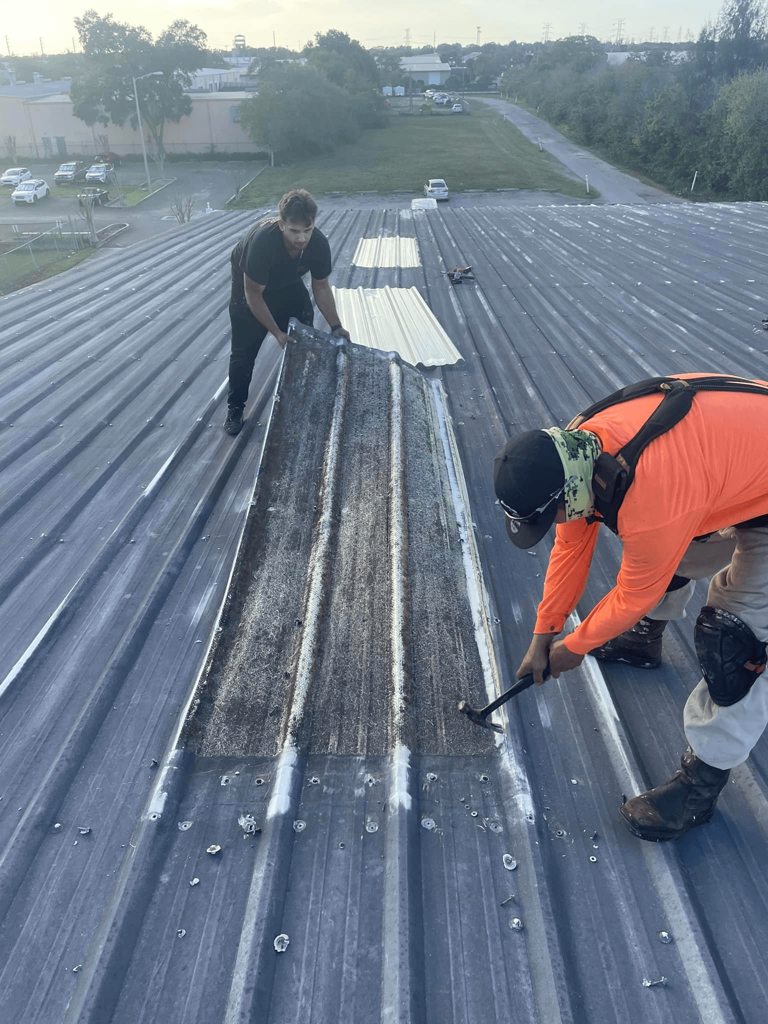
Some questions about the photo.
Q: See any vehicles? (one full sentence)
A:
Yes, there's a vehicle here.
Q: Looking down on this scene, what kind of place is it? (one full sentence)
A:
It's an industrial area.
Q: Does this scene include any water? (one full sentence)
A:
No, there is no water in the image.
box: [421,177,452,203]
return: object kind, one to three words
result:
car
